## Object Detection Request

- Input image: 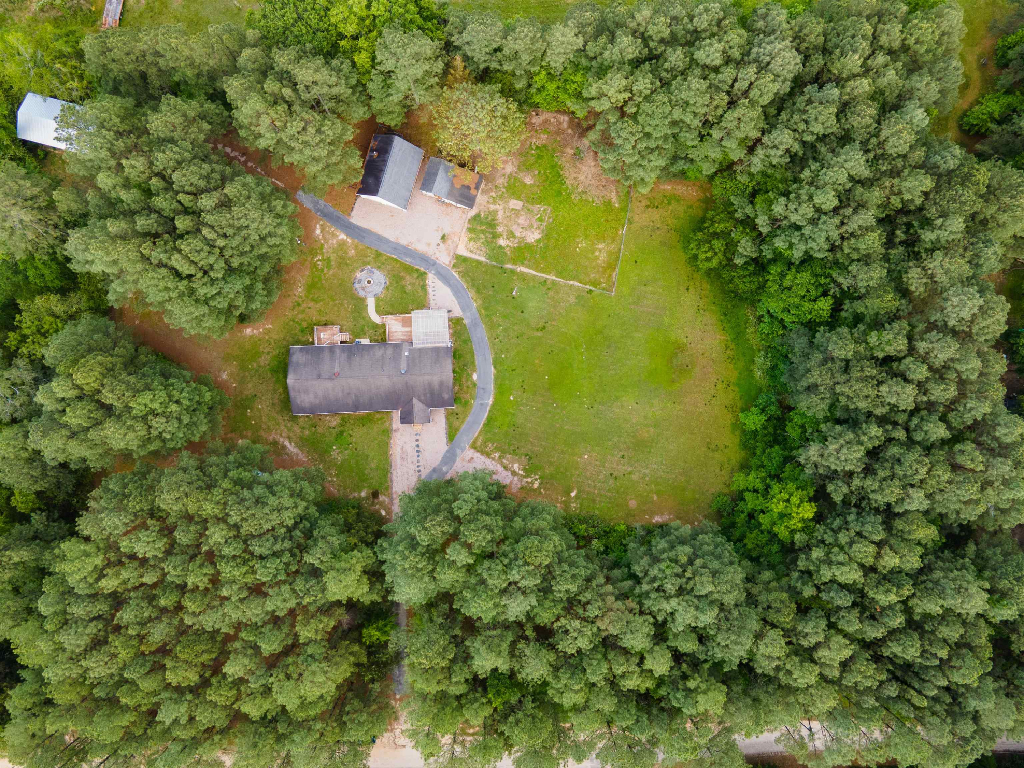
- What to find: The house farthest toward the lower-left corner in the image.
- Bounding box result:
[287,339,455,429]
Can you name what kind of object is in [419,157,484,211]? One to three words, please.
shed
